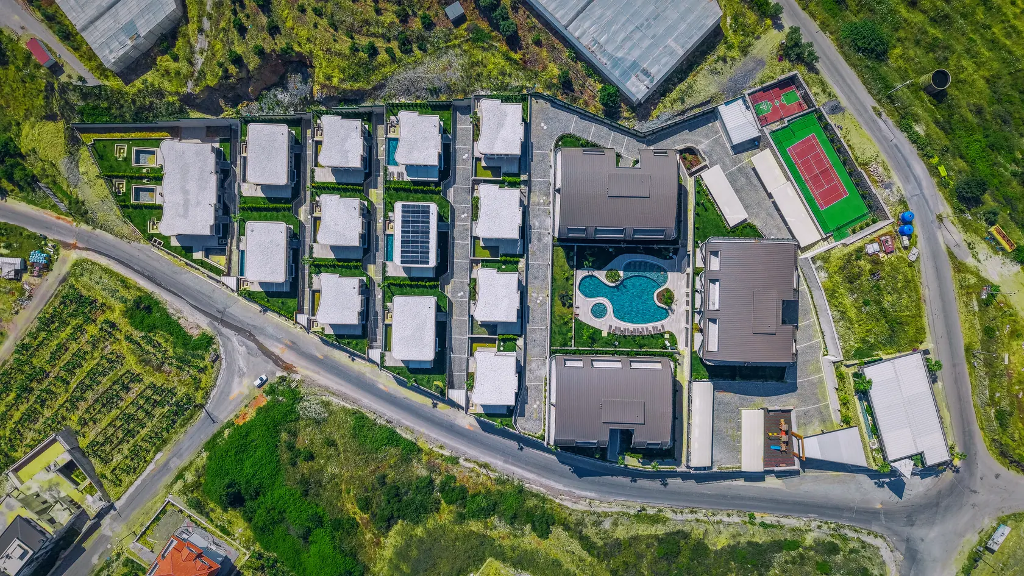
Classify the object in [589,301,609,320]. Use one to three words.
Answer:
swimming pool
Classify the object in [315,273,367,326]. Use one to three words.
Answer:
house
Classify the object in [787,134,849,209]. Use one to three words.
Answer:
tennis court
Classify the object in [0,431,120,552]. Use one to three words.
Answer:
building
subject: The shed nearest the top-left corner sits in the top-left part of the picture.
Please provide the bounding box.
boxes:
[26,38,57,67]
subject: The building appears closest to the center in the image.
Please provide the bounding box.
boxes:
[474,268,520,324]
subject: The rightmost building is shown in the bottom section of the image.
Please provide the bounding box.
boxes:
[857,349,952,468]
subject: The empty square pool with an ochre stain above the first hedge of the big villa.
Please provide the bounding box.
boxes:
[132,147,157,166]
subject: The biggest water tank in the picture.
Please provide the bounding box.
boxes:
[915,69,951,96]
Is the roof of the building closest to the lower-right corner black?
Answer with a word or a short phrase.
No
